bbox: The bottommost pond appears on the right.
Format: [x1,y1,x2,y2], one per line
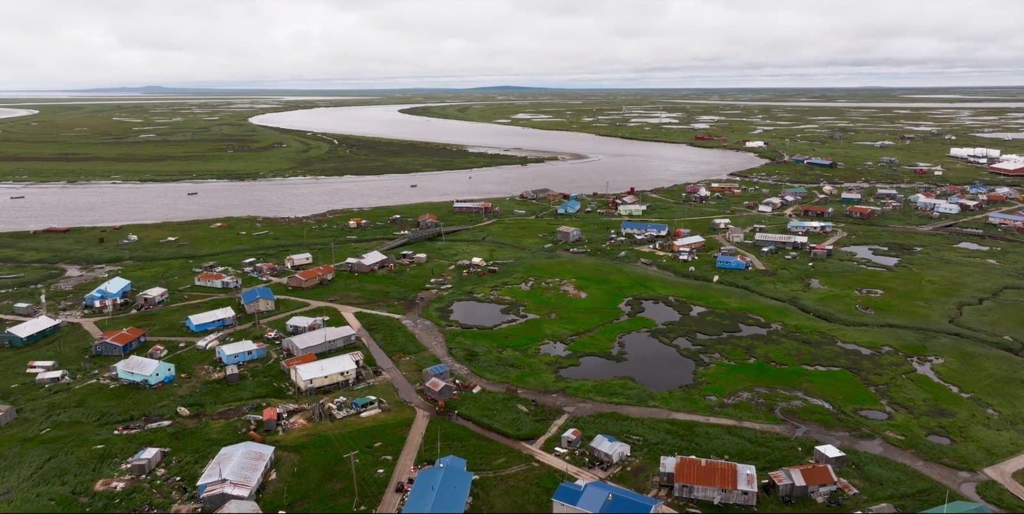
[452,242,997,443]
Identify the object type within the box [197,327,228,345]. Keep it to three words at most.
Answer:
boat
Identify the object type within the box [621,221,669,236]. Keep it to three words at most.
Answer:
building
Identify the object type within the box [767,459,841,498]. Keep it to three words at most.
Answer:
house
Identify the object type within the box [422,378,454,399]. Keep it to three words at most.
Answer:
shed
